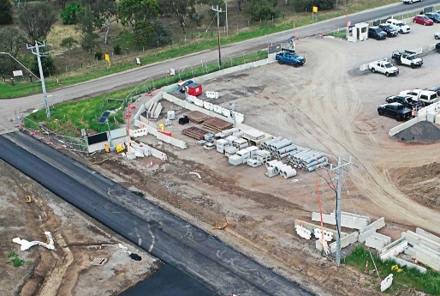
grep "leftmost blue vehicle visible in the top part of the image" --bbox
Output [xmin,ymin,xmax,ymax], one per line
[275,49,307,68]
